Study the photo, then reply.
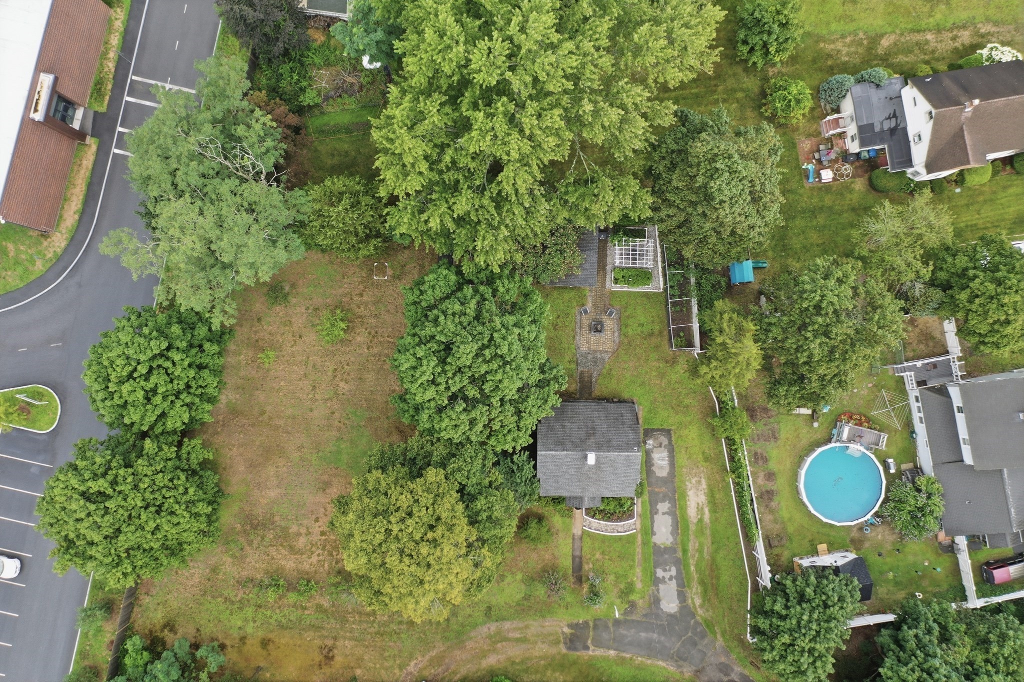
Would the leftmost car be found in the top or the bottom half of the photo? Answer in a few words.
bottom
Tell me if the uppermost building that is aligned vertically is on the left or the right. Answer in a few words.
left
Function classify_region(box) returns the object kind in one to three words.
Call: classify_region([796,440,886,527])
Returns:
swimming pool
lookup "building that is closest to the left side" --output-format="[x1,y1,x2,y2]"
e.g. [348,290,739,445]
[0,0,113,234]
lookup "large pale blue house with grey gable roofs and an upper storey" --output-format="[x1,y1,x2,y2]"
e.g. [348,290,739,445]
[905,366,1024,552]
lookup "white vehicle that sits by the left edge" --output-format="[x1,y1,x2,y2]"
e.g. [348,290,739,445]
[0,557,20,580]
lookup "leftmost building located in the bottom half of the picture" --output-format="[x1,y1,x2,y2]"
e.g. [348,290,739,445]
[537,399,642,507]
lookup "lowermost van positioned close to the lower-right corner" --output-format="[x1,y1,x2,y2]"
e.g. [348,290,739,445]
[983,551,1024,585]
